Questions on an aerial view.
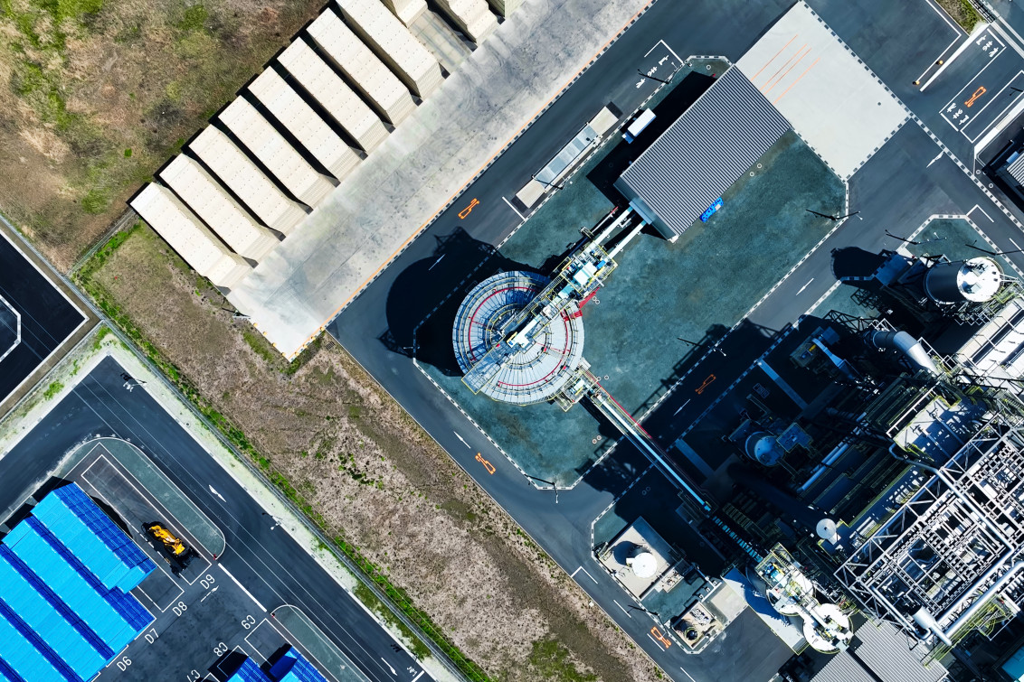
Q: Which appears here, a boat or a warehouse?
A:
warehouse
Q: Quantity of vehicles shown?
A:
2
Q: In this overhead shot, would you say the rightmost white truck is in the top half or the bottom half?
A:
top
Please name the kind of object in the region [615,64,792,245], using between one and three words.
warehouse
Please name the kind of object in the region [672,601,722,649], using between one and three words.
storage tank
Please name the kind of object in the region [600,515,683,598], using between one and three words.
storage tank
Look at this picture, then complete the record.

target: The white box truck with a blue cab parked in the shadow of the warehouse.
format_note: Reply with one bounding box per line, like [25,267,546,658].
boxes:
[619,107,656,146]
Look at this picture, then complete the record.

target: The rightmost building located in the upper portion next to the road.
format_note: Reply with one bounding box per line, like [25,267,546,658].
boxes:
[991,146,1024,205]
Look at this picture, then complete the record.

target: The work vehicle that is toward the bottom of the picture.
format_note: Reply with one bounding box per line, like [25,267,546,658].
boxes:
[145,518,201,564]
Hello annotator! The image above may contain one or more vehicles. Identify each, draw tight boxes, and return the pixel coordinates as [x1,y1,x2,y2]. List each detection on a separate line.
[145,518,201,564]
[619,107,656,146]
